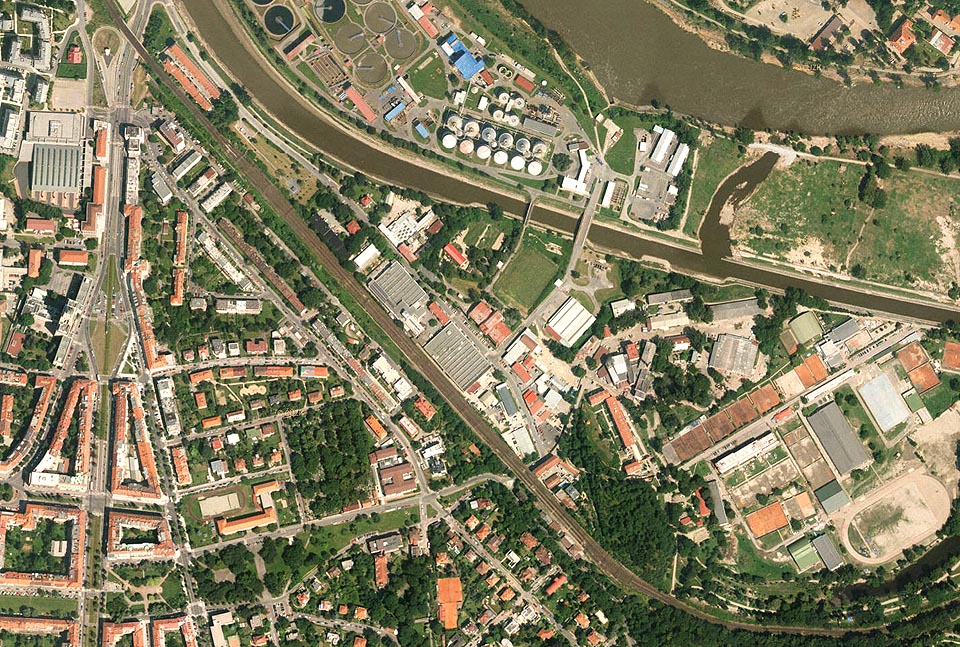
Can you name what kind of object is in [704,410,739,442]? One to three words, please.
tennis court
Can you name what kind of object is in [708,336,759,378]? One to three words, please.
building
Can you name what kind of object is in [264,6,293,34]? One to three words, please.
water tank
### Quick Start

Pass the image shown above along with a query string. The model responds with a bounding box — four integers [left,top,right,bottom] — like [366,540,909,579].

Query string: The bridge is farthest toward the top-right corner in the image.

[573,174,608,252]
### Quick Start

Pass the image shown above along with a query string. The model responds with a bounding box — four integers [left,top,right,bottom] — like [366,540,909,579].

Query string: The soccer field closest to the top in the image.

[494,249,557,313]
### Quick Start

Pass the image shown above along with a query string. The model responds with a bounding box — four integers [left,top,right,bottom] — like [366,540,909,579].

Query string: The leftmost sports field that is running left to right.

[199,492,241,516]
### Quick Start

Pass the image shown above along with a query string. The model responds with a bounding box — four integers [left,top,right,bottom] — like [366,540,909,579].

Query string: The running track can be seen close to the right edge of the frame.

[842,473,950,564]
